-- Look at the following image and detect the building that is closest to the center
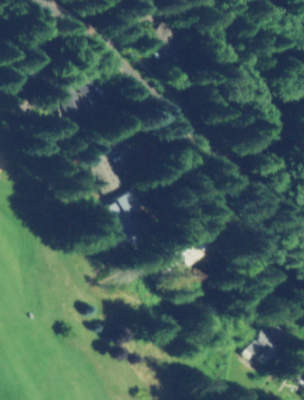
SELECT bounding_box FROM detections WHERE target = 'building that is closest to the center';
[106,190,136,220]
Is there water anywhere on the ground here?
No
